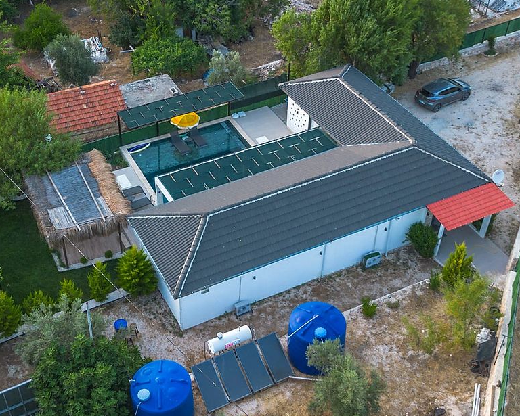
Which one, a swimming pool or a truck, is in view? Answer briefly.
swimming pool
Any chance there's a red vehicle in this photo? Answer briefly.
No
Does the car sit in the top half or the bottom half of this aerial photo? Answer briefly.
top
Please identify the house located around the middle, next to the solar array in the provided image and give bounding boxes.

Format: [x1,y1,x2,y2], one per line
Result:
[125,61,492,331]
